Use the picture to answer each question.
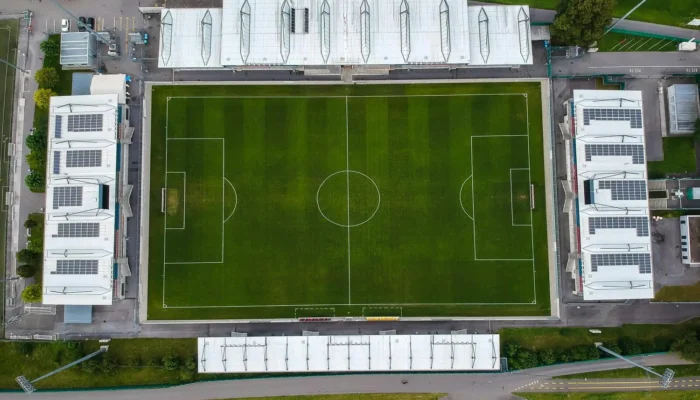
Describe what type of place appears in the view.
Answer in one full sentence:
This image shows a sports ground.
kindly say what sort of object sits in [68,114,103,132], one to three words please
solar array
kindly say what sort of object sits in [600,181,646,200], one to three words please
solar array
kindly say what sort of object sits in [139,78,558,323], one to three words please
soccer field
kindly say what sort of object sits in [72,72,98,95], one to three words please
building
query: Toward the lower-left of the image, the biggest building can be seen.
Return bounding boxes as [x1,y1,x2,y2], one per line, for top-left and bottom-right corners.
[64,305,99,323]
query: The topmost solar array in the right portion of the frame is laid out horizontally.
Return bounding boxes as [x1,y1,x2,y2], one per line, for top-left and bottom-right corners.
[584,109,642,128]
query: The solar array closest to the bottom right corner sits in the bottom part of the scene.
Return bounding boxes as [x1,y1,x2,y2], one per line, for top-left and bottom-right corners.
[591,254,651,273]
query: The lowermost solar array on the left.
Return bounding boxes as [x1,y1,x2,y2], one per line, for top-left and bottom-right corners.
[51,261,98,274]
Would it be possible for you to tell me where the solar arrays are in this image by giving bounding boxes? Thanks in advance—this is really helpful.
[600,181,646,200]
[589,217,648,236]
[51,261,98,274]
[66,151,101,167]
[68,114,103,132]
[586,144,644,163]
[52,224,99,237]
[53,187,82,209]
[54,152,59,174]
[584,109,642,128]
[591,254,651,273]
